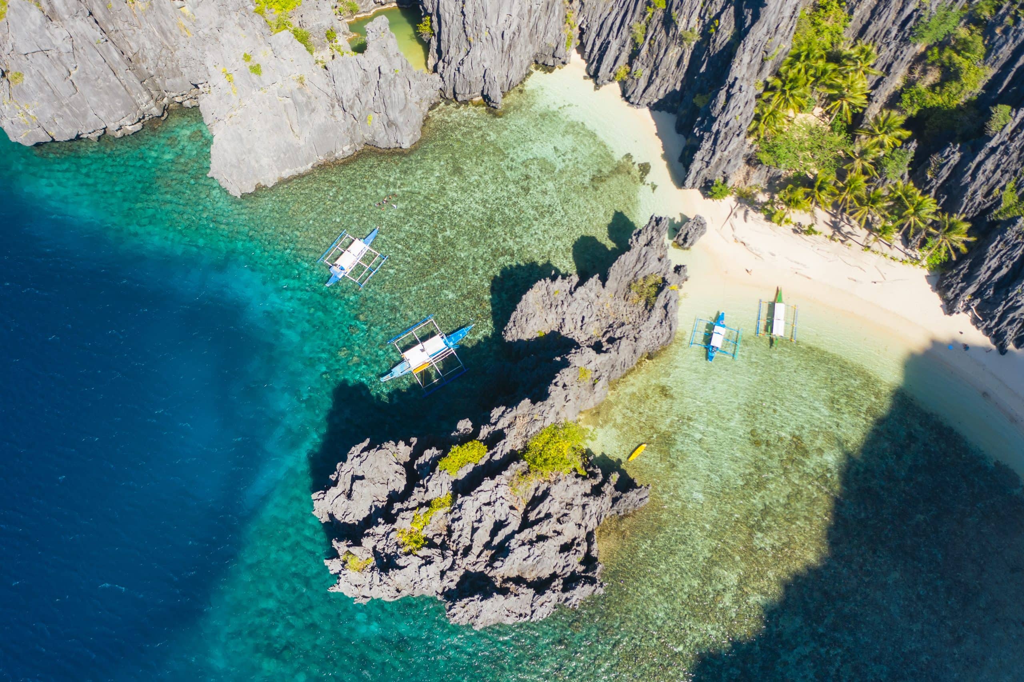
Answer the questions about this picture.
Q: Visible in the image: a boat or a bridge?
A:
boat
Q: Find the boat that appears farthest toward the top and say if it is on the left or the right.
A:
left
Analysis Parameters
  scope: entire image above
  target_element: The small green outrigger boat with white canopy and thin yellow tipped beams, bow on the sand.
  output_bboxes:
[752,284,800,348]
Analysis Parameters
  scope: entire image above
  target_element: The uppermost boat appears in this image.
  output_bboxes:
[315,223,393,286]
